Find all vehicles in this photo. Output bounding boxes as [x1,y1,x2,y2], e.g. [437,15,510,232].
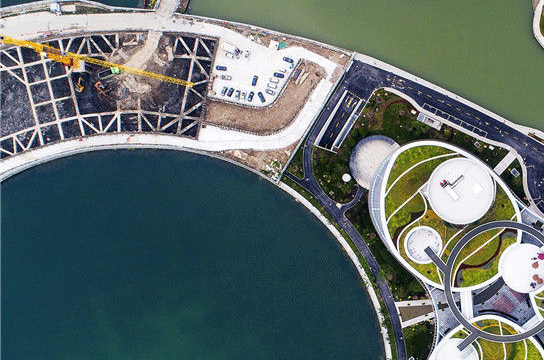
[92,78,108,98]
[277,65,289,73]
[273,71,285,78]
[220,75,231,81]
[270,76,281,83]
[221,84,229,97]
[258,91,266,103]
[282,57,294,63]
[241,90,248,101]
[252,75,259,87]
[95,66,120,78]
[267,82,279,89]
[265,88,276,96]
[73,75,85,95]
[227,86,234,99]
[219,41,239,54]
[247,90,255,102]
[235,88,242,100]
